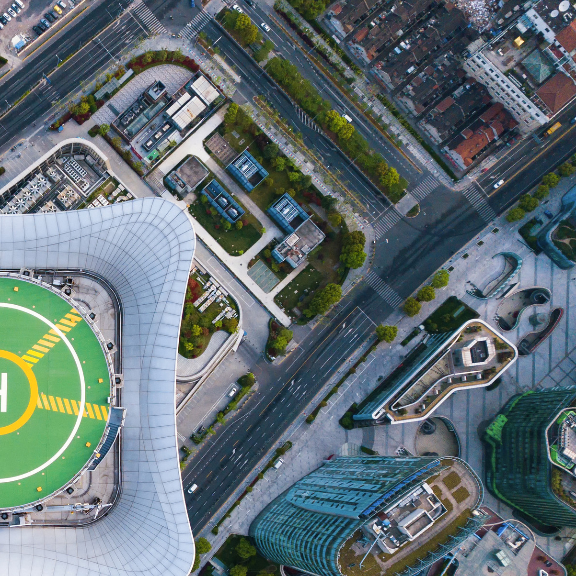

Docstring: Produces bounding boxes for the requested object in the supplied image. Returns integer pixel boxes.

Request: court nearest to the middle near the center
[248,259,280,292]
